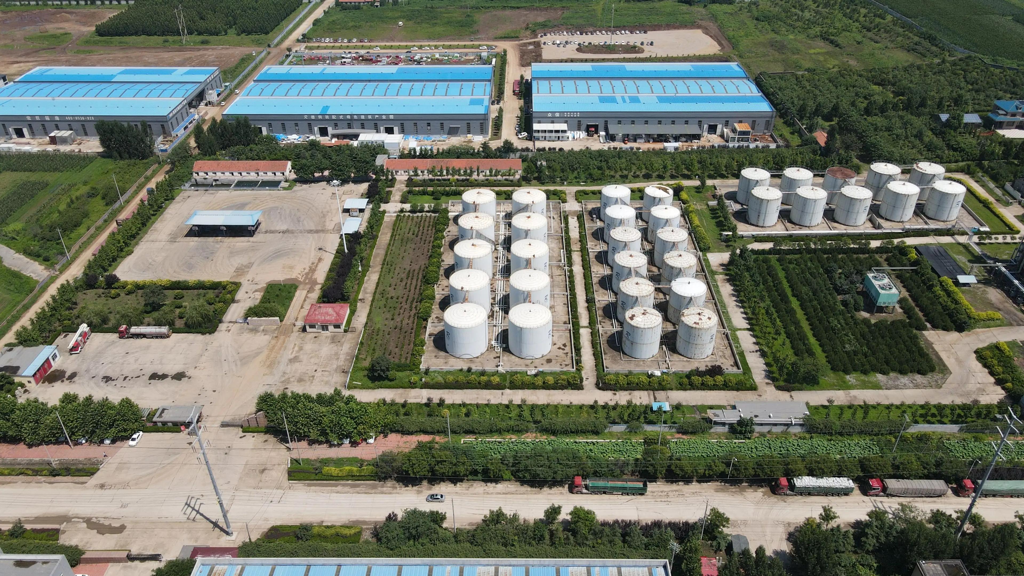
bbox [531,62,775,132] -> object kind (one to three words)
building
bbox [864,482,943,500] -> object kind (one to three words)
vehicle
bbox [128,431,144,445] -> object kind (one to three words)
car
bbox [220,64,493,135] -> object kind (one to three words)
building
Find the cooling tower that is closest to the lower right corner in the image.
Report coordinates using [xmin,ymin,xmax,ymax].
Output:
[862,271,902,313]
